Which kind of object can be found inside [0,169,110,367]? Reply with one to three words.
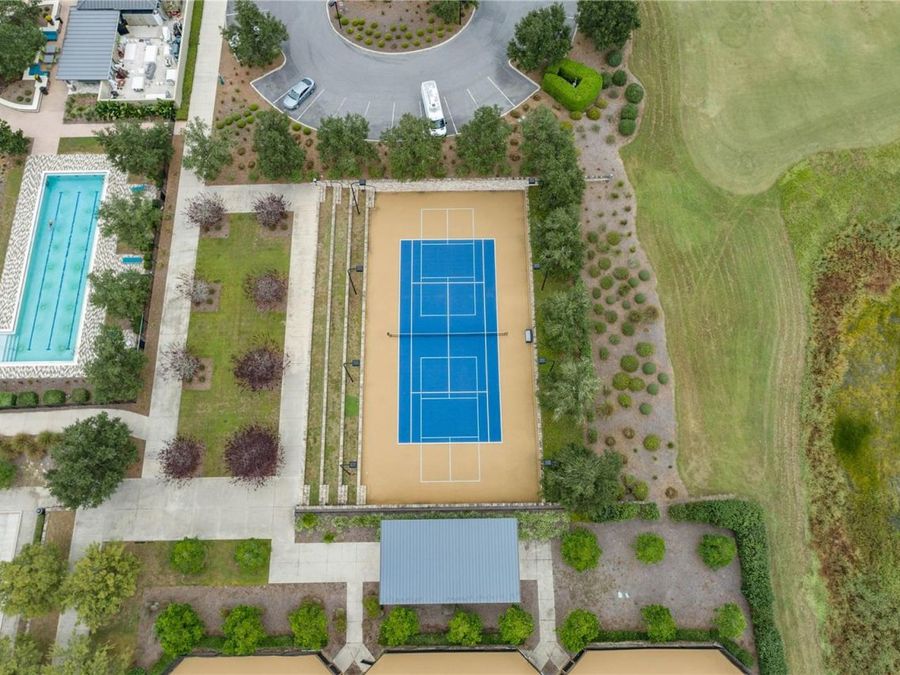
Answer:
swimming pool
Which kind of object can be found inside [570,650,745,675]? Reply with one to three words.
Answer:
tennis court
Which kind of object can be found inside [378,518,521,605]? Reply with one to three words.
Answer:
building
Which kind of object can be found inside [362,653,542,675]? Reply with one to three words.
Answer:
tennis court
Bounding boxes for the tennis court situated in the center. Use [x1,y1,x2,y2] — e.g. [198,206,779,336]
[360,190,541,503]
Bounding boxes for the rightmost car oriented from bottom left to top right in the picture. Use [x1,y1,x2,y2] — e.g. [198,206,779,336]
[279,75,316,105]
